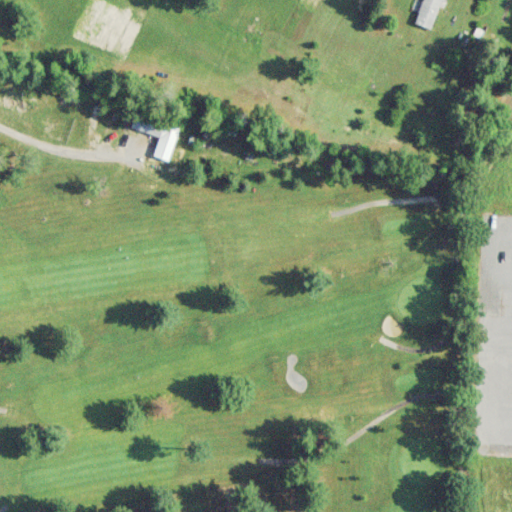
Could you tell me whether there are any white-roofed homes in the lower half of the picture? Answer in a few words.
No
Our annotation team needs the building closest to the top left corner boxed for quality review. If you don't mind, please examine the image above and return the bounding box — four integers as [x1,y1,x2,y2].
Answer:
[136,122,180,164]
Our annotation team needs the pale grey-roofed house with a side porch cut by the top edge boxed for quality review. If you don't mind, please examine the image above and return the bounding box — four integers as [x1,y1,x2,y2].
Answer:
[416,0,448,30]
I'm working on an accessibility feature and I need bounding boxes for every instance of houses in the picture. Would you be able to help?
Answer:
[416,0,448,30]
[136,122,180,164]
